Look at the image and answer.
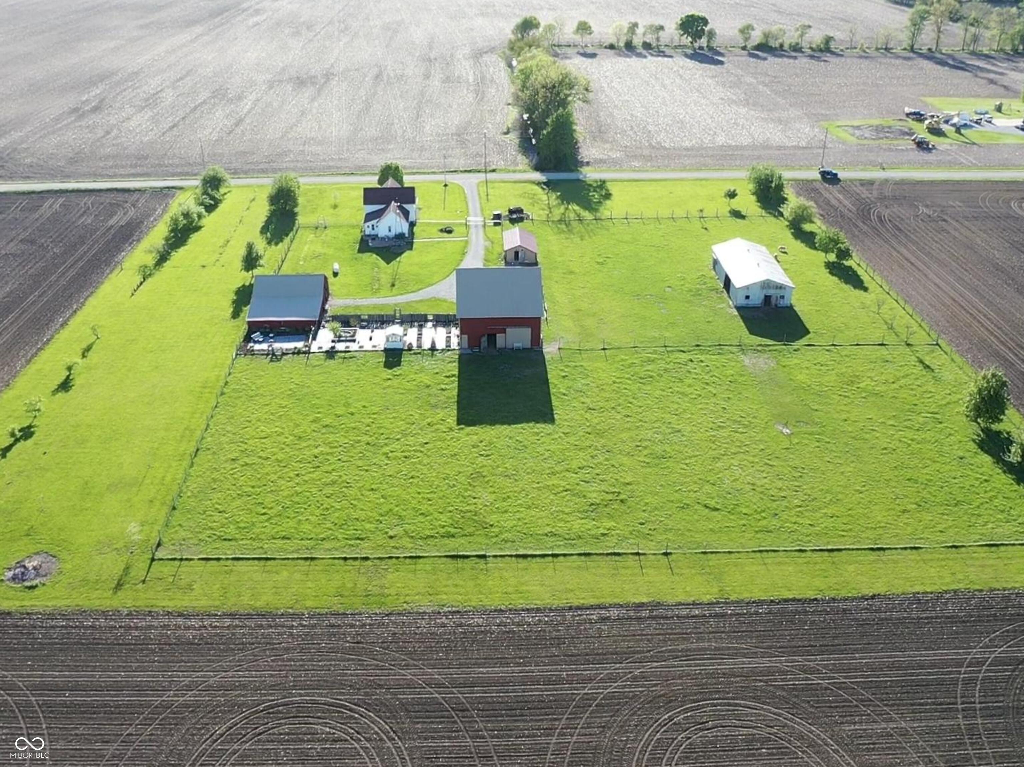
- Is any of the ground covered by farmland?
Yes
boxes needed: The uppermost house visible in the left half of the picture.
[361,176,419,237]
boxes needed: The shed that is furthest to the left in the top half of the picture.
[245,273,330,329]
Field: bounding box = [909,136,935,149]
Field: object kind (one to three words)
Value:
vehicle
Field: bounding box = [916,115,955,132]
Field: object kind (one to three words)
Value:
work vehicle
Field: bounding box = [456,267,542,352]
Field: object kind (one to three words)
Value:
barn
